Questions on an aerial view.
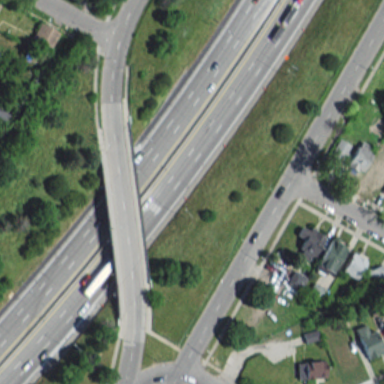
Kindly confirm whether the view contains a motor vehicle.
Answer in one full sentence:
Yes, looking at the shot, I can spot a motor vehicle.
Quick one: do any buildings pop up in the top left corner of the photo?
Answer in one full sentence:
Yes, a building shows up in the top left corner of the photo.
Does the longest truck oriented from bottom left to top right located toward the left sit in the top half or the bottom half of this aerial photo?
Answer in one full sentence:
The longest truck oriented from bottom left to top right located toward the left is in the bottom half of the image.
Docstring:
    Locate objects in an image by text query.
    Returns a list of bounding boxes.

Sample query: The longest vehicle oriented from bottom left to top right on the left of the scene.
[83,258,116,297]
